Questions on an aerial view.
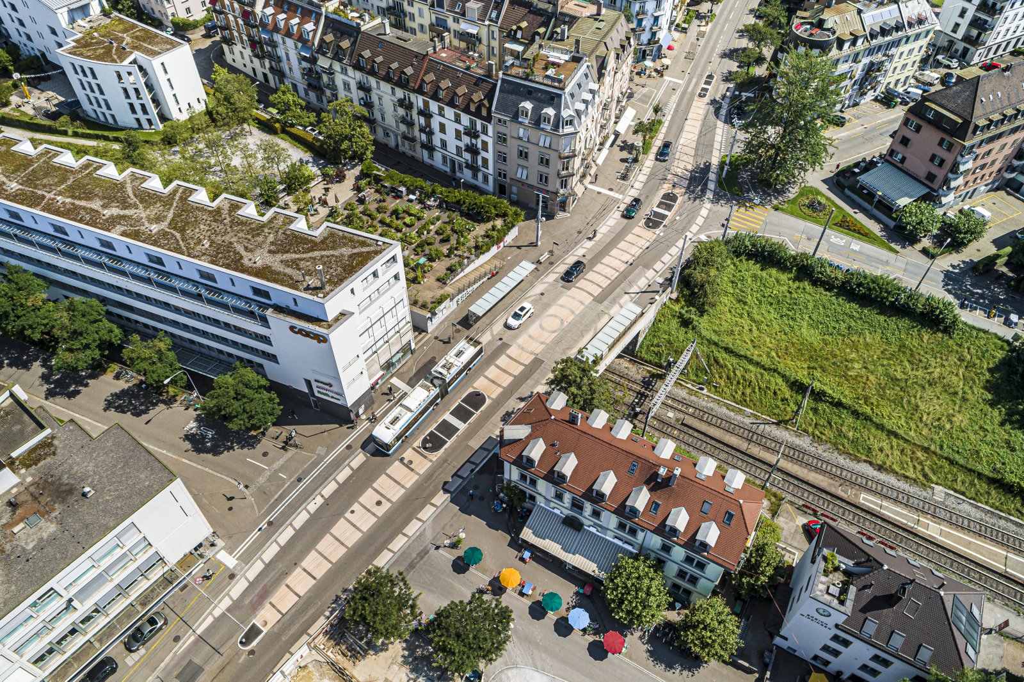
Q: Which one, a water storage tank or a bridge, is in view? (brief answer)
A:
bridge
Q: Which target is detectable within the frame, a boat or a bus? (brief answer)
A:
bus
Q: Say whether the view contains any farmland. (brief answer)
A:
No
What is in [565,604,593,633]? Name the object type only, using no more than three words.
umbrella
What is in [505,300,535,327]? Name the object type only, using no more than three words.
car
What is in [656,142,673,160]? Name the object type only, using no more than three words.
car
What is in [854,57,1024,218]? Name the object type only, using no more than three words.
house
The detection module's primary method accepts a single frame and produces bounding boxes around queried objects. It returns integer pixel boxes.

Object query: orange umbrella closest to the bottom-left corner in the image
[497,566,523,592]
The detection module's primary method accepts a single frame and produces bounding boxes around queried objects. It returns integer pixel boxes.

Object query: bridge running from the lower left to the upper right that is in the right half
[588,284,678,376]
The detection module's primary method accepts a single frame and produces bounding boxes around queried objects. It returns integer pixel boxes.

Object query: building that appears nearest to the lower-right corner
[781,512,989,682]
